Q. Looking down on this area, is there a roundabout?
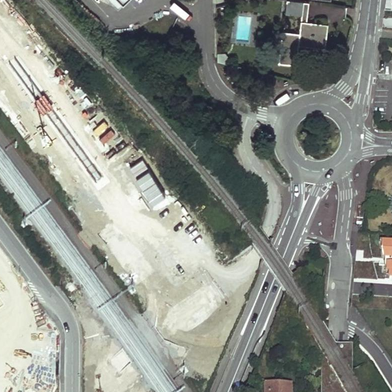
Yes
